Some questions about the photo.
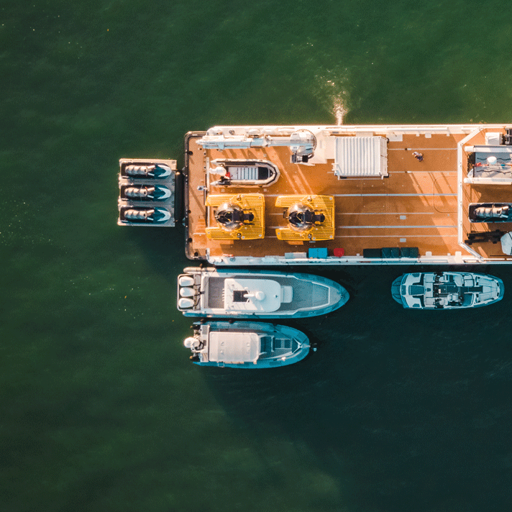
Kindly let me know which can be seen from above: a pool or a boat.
boat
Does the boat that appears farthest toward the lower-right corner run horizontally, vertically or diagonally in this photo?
horizontally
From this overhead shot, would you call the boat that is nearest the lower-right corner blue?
Yes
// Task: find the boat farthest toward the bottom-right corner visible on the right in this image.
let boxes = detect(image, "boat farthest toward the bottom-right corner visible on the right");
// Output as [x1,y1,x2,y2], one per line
[392,266,504,310]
